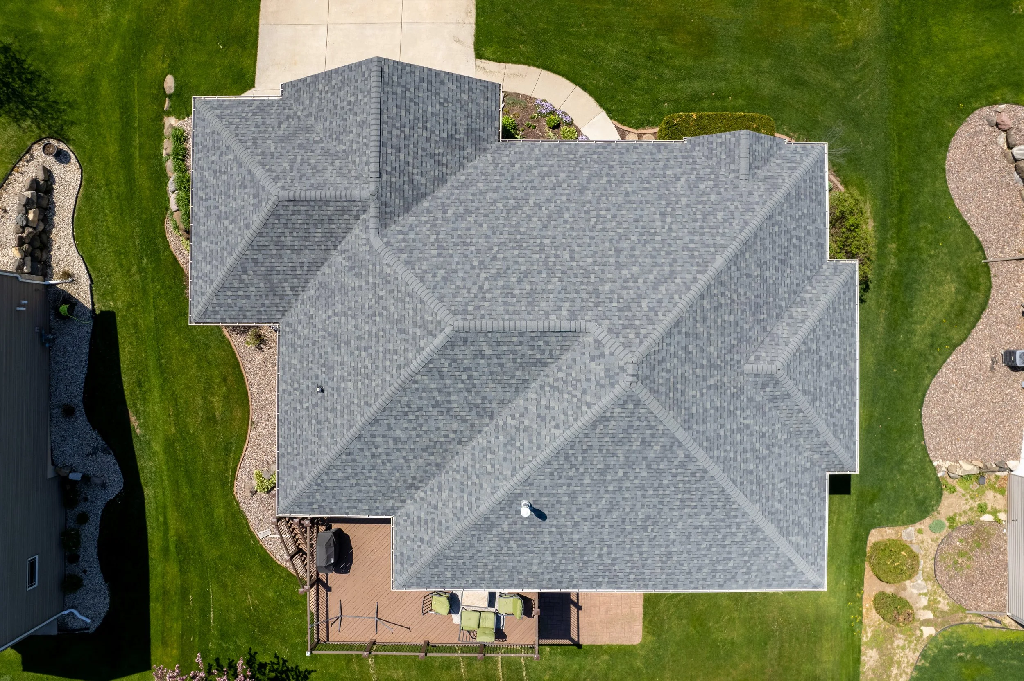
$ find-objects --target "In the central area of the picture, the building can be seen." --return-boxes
[188,54,860,594]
